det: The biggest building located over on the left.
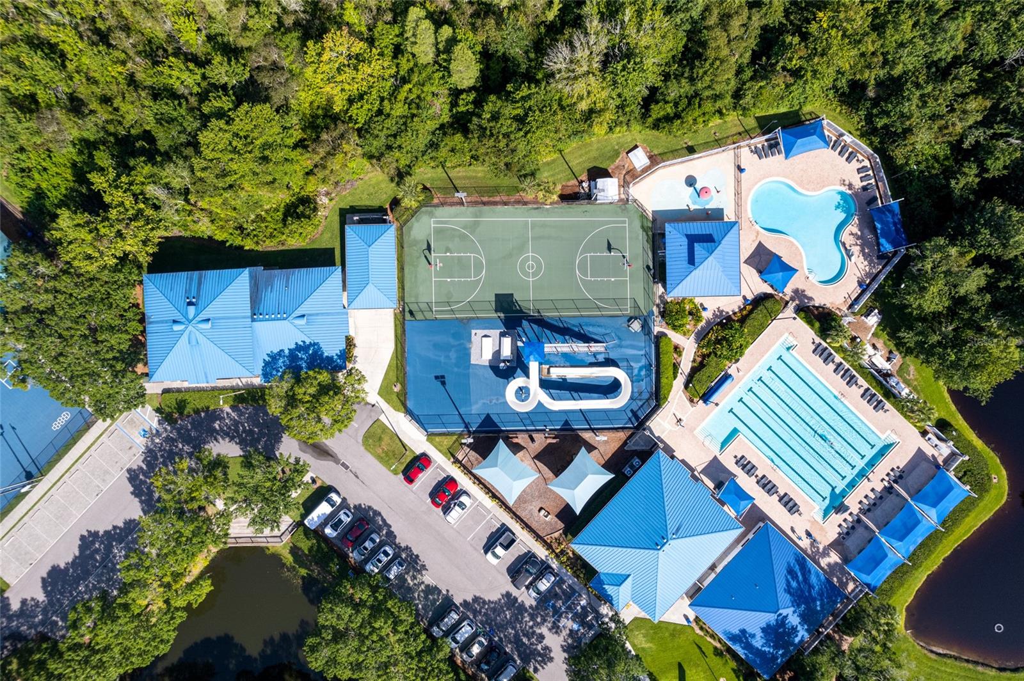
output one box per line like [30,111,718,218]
[143,265,350,384]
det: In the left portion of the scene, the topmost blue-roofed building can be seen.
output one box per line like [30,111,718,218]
[345,214,397,309]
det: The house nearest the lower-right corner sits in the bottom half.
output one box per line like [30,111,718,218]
[689,522,847,680]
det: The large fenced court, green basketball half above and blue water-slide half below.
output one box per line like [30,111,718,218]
[403,203,656,433]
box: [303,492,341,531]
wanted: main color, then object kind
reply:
white van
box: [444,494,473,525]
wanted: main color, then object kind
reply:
white car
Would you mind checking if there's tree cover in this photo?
Yes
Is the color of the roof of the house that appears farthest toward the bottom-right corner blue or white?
blue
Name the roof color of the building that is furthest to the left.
blue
